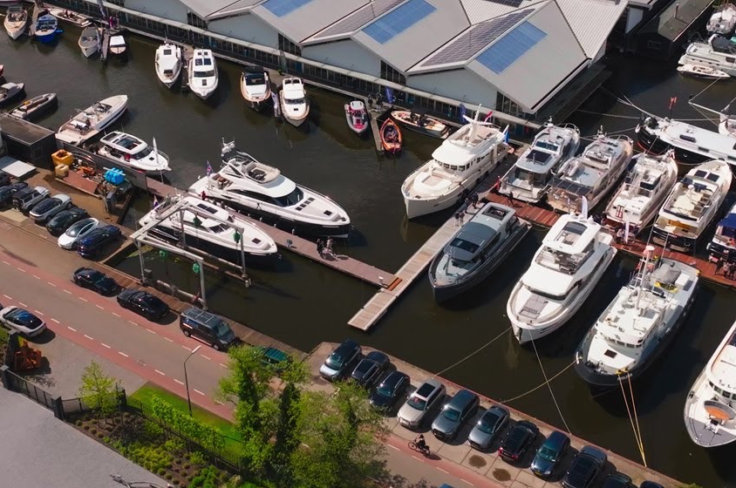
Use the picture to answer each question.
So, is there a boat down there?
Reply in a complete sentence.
Yes, there is a boat in the image.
